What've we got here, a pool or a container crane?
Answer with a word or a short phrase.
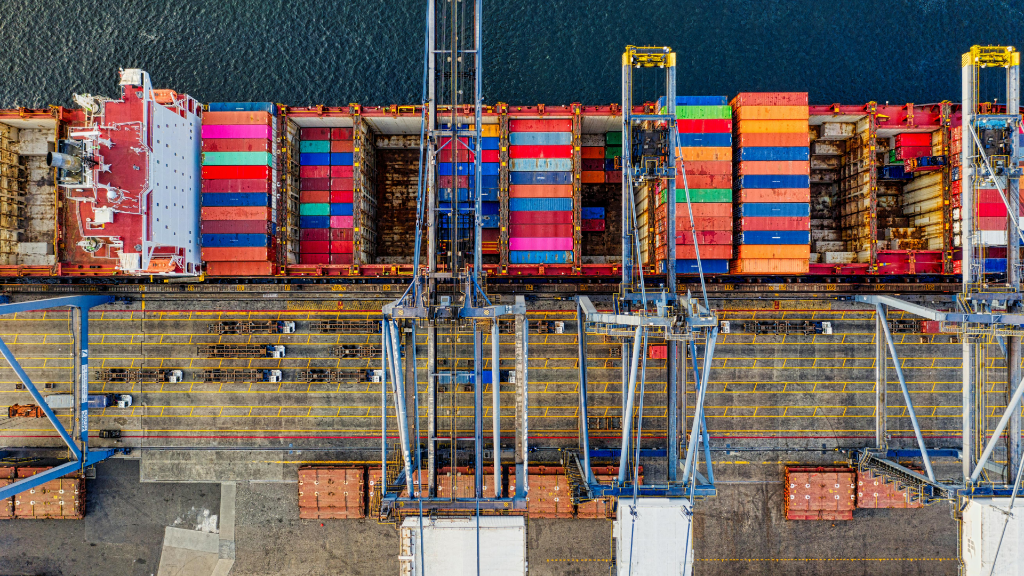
container crane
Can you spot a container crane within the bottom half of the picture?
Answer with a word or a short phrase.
Yes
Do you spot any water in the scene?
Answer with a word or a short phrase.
Yes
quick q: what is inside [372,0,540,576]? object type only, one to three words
container crane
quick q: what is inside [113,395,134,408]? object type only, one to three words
vehicle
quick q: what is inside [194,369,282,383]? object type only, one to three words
vehicle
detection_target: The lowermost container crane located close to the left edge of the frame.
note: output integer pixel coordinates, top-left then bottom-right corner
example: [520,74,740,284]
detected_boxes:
[0,295,134,501]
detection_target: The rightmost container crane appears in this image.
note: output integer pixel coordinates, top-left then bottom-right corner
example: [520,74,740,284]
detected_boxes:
[826,41,1024,576]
